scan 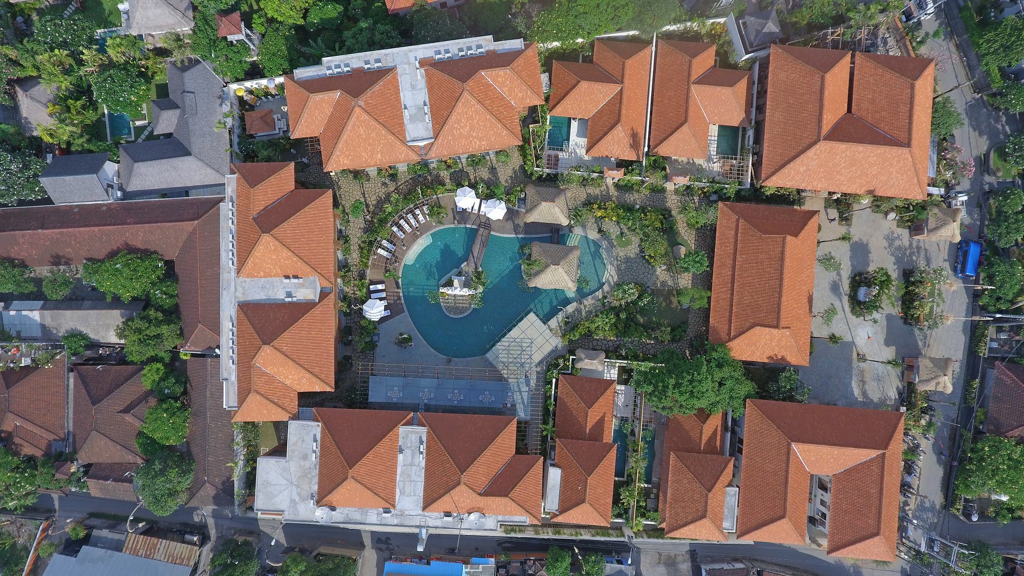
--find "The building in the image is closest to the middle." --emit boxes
[525,239,582,293]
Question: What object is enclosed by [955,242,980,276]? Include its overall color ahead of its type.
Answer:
blue vehicle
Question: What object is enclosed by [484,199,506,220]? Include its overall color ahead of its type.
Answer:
white umbrella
